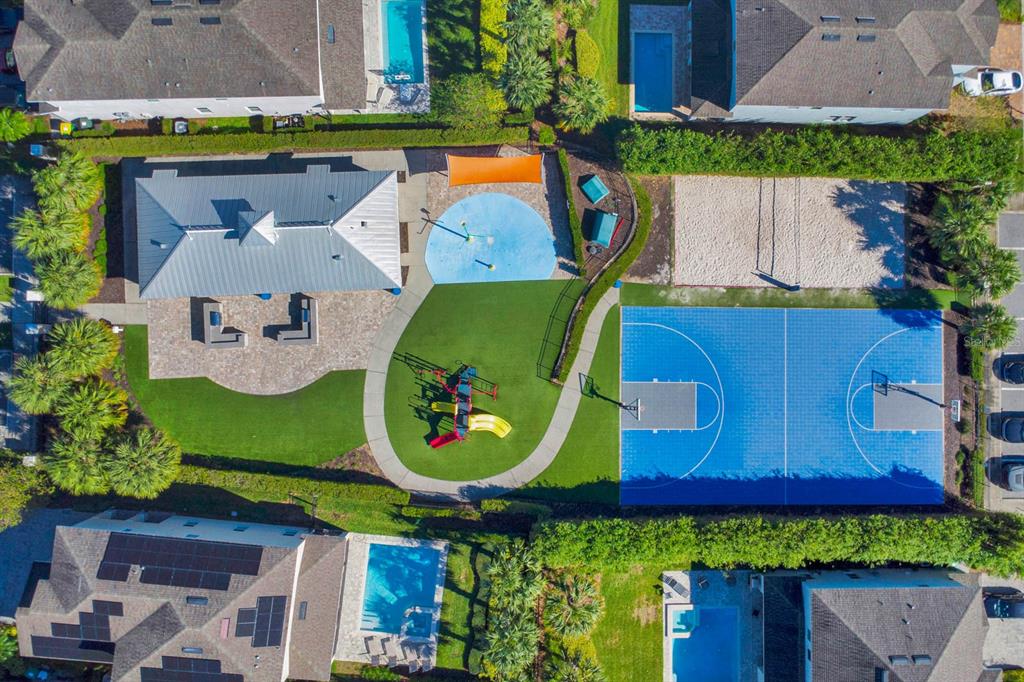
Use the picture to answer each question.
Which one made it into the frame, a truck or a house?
house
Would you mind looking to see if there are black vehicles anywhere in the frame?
Yes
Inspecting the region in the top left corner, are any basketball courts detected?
No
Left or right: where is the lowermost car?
right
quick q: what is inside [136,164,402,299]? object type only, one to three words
building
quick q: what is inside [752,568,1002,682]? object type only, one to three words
house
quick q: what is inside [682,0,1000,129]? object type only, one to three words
house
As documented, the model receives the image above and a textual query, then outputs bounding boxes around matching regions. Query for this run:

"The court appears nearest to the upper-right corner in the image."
[674,175,908,289]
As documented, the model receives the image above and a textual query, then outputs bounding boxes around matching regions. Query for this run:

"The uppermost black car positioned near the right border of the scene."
[1004,360,1024,384]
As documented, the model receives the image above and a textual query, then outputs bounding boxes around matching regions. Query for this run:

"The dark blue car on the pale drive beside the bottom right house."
[985,589,1024,620]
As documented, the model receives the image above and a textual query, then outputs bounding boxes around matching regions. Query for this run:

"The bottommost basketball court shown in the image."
[619,305,945,505]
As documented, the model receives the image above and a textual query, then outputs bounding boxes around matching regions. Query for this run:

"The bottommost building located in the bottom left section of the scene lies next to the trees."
[16,513,348,682]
